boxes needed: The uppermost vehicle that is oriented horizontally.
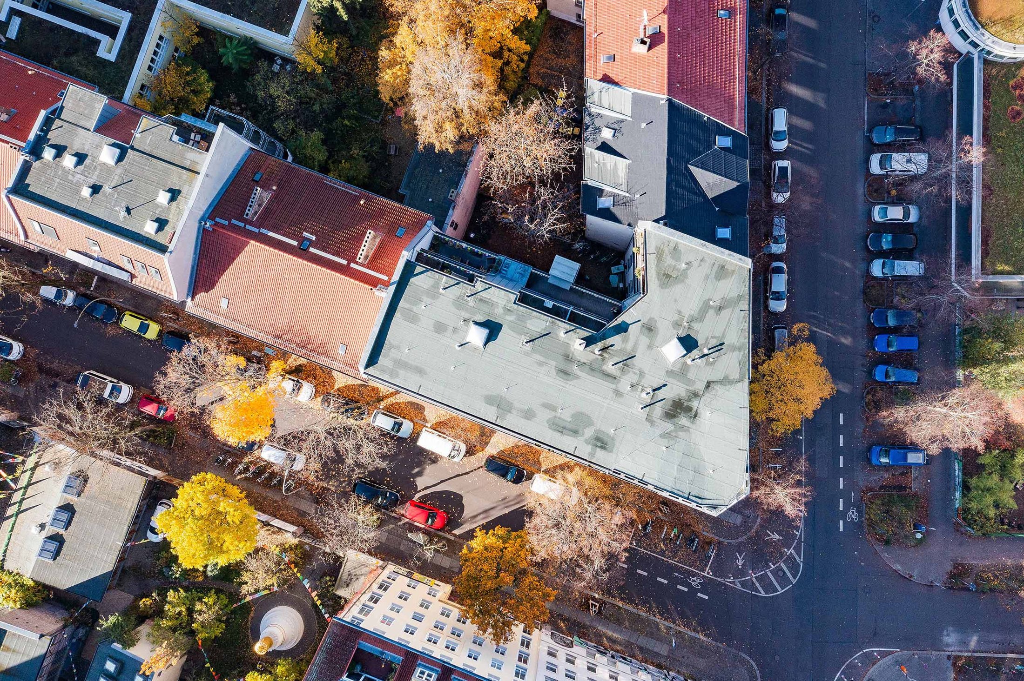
[867,122,921,146]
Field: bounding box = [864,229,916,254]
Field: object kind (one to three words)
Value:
car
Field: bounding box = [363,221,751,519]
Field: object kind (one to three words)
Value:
building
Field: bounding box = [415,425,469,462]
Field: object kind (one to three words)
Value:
vehicle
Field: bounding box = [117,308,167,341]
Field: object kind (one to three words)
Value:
car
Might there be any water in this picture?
No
